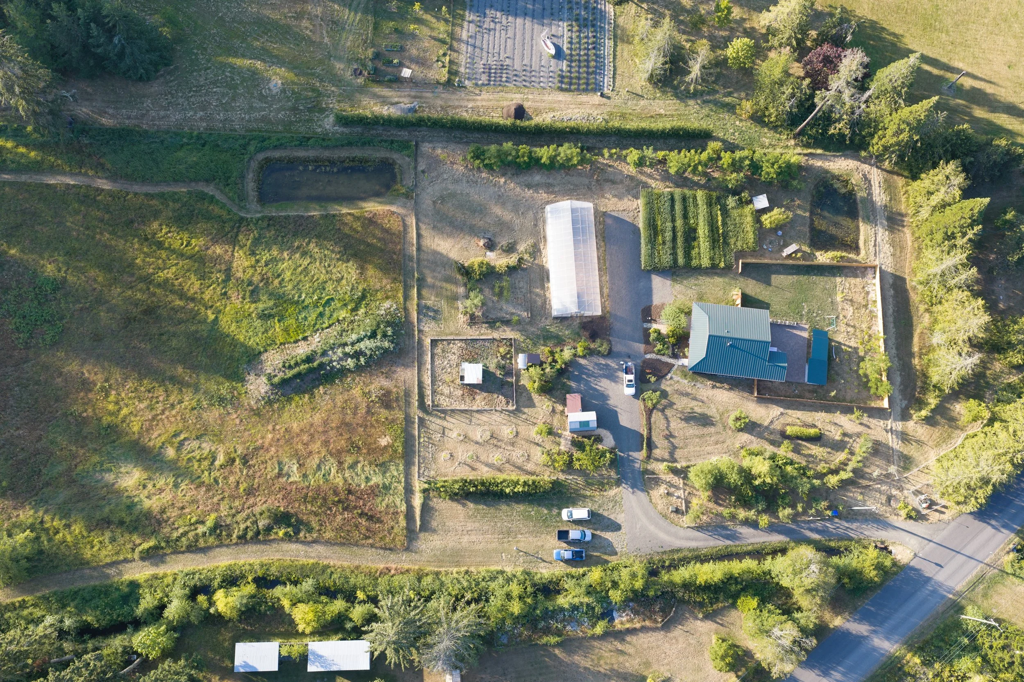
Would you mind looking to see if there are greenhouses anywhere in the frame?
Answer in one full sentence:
Yes, there is a greenhouse in the image.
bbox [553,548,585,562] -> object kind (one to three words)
vehicle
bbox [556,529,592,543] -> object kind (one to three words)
vehicle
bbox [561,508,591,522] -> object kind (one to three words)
car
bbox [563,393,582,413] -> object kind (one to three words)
shed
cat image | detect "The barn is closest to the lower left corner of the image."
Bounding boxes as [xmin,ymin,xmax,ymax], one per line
[235,640,283,672]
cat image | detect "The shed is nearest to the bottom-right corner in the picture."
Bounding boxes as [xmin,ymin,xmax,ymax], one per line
[803,330,828,385]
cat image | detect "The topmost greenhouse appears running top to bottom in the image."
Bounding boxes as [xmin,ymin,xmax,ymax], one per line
[544,200,601,317]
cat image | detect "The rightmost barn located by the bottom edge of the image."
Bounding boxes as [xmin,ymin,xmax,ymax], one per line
[308,638,371,672]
